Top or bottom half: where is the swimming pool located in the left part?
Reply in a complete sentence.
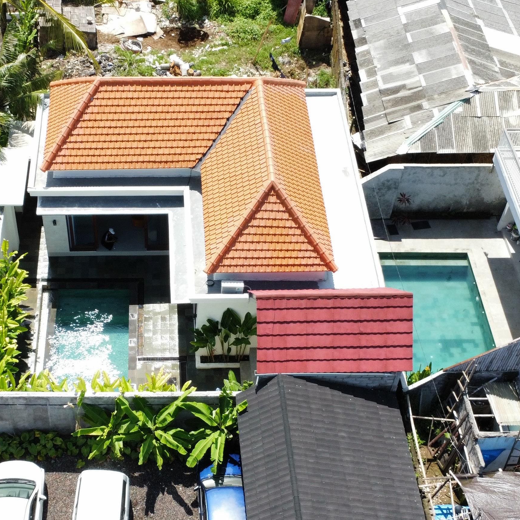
The swimming pool located in the left part is in the bottom half of the image.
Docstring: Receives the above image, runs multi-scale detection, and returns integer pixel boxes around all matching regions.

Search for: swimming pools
[38,284,144,392]
[371,242,519,406]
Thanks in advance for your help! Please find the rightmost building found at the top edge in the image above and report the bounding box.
[344,0,520,185]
